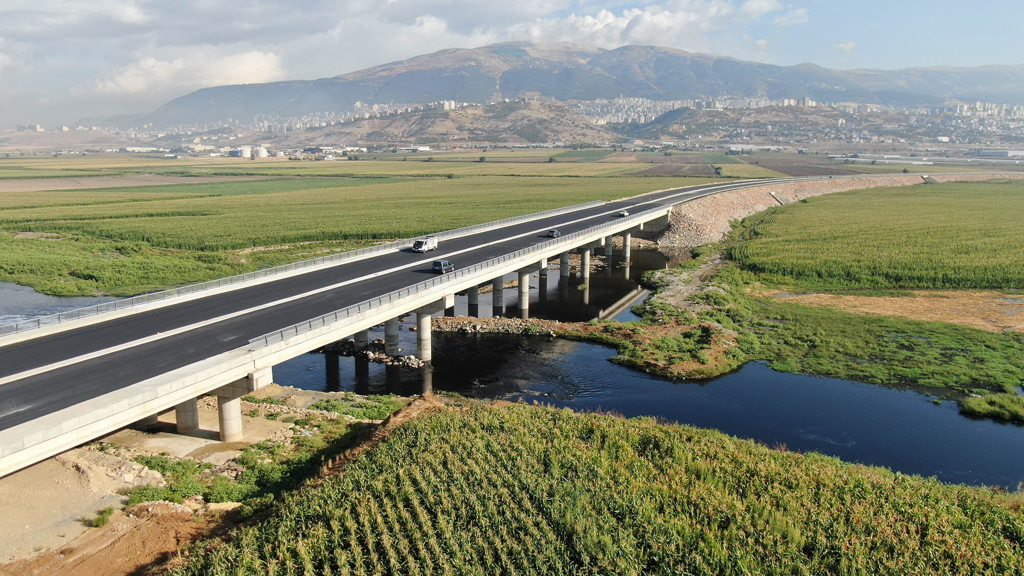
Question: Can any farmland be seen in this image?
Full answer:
Yes, some farmland is visible.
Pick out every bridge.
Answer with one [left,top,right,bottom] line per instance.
[0,200,675,476]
